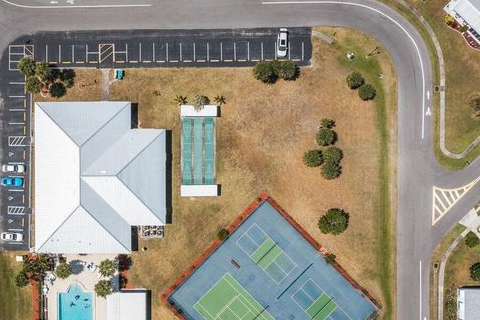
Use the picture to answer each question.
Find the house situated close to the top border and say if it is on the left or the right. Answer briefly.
right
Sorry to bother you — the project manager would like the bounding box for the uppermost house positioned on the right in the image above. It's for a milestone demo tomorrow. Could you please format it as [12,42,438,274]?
[449,0,480,40]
